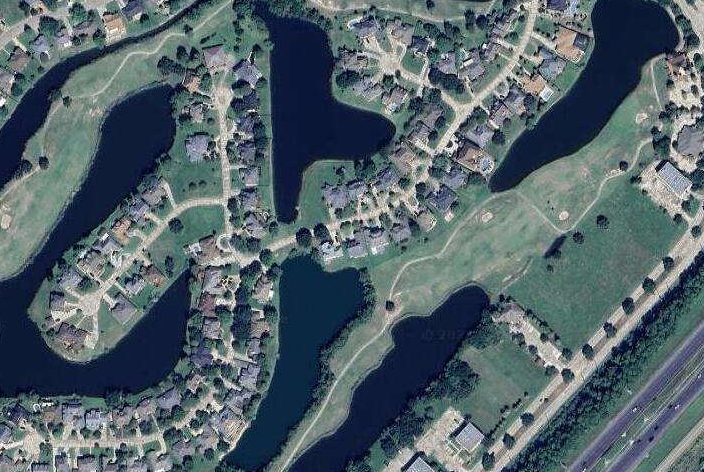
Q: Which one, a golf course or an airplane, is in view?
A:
golf course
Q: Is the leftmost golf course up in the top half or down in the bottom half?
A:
top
